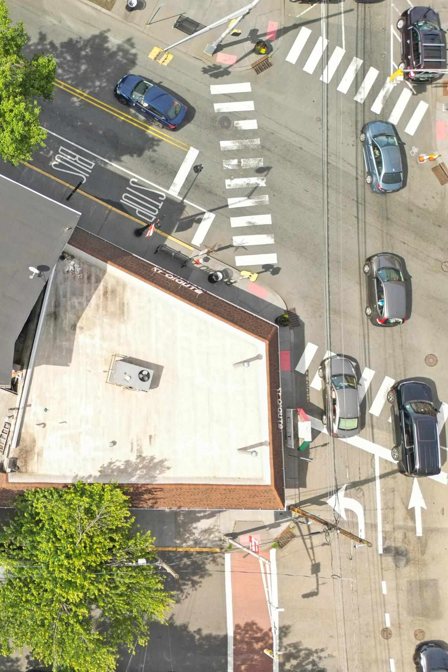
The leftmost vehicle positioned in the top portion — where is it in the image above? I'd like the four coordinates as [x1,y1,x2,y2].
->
[113,76,191,132]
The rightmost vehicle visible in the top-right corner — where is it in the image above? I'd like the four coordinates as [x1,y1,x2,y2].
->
[398,7,447,84]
